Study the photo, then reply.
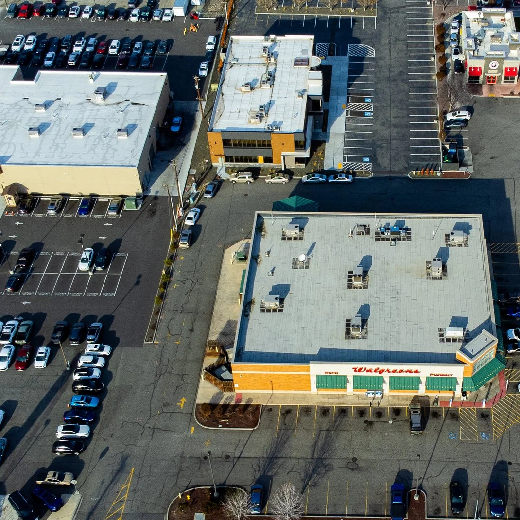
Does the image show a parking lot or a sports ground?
parking lot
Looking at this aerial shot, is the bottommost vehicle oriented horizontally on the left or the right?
left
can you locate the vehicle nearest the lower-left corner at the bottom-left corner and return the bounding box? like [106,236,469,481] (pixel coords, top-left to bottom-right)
[11,492,37,520]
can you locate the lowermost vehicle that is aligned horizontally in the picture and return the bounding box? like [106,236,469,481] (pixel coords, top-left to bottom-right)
[32,469,78,489]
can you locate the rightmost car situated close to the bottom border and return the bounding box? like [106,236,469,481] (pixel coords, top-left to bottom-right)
[488,484,505,516]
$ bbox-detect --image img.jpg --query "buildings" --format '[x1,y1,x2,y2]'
[0,68,172,198]
[208,34,328,171]
[461,5,520,84]
[232,190,507,401]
